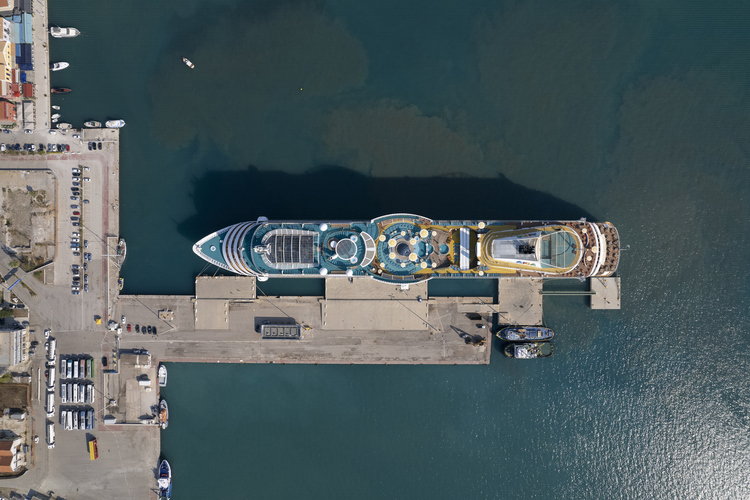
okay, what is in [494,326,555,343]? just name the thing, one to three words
boat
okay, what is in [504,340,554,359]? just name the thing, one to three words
boat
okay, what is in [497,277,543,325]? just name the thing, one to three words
pier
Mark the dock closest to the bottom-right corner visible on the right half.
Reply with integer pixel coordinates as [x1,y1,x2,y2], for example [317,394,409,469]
[589,277,620,309]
